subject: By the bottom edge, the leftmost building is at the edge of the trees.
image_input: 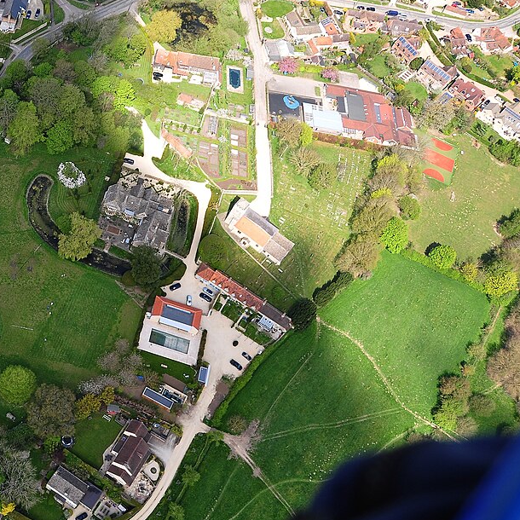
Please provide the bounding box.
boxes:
[48,462,104,515]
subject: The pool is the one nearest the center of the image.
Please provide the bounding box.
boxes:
[149,329,190,354]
